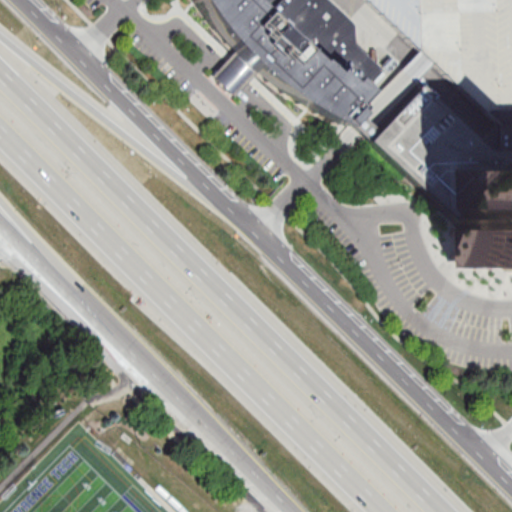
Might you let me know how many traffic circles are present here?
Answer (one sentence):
The count of traffic circles is 0.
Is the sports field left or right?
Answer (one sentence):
You can find the sports field on the left side of the picture.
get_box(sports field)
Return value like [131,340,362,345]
[0,424,167,512]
